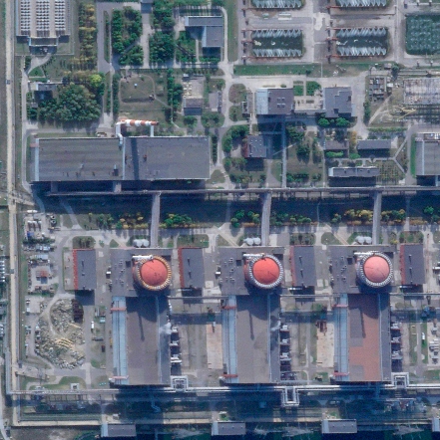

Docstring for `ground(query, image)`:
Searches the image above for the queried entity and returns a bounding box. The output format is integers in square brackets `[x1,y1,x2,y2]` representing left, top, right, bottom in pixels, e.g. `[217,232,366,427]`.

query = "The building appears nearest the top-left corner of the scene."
[14,0,73,46]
